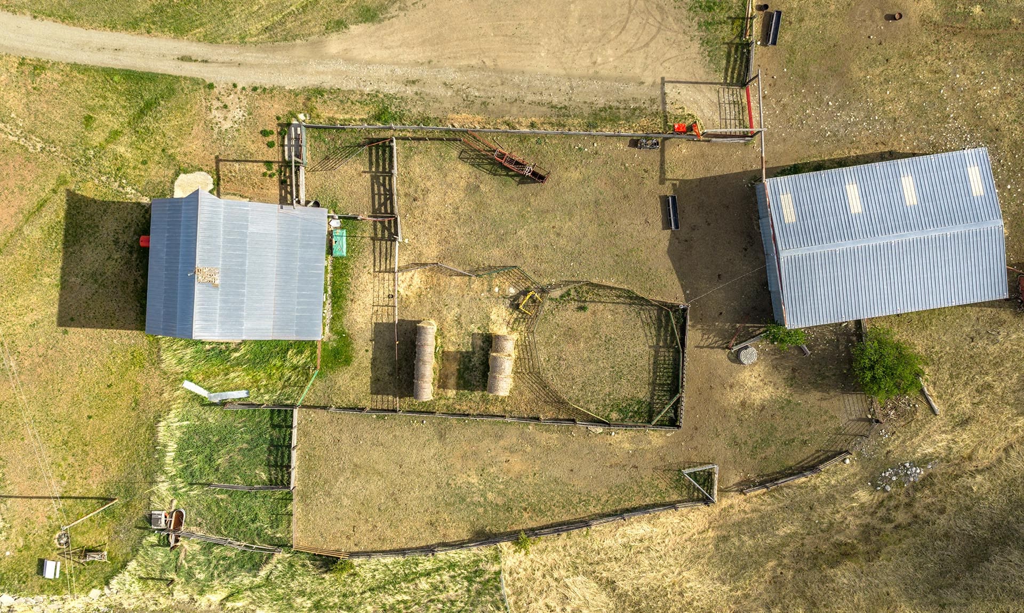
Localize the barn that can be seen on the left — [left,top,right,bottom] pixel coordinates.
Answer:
[146,184,334,341]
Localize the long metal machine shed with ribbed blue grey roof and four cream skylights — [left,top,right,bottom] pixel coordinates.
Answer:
[755,148,1008,328]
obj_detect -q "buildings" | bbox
[146,184,334,341]
[755,148,1008,328]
